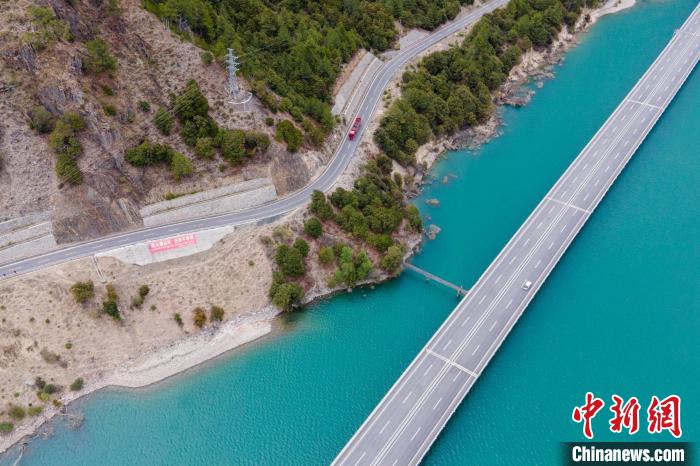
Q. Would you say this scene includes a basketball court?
No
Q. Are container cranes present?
No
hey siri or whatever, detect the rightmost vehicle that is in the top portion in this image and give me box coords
[345,121,360,141]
